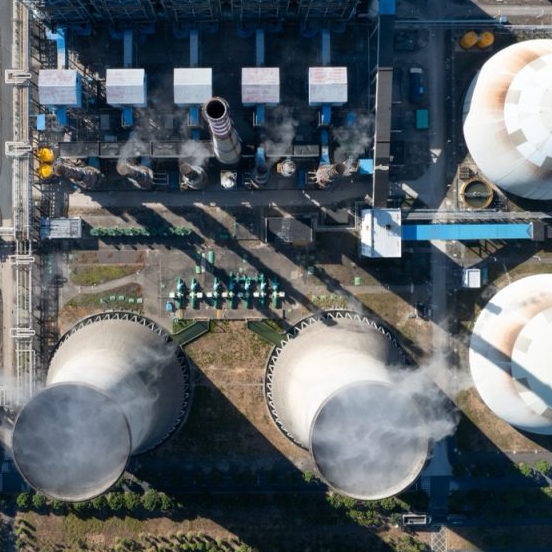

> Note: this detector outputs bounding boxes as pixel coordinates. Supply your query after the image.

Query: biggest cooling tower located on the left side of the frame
[10,311,191,501]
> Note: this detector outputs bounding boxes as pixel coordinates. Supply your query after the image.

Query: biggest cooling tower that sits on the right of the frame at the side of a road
[265,310,427,499]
